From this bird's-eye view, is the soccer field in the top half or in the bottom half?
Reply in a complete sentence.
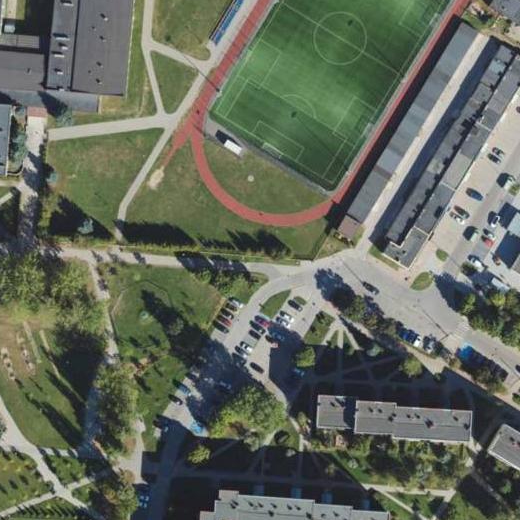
The top half of the photo is where the soccer field is.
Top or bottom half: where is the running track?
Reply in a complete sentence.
You can find the running track in the top half.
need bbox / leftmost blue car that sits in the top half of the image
[466,188,481,201]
